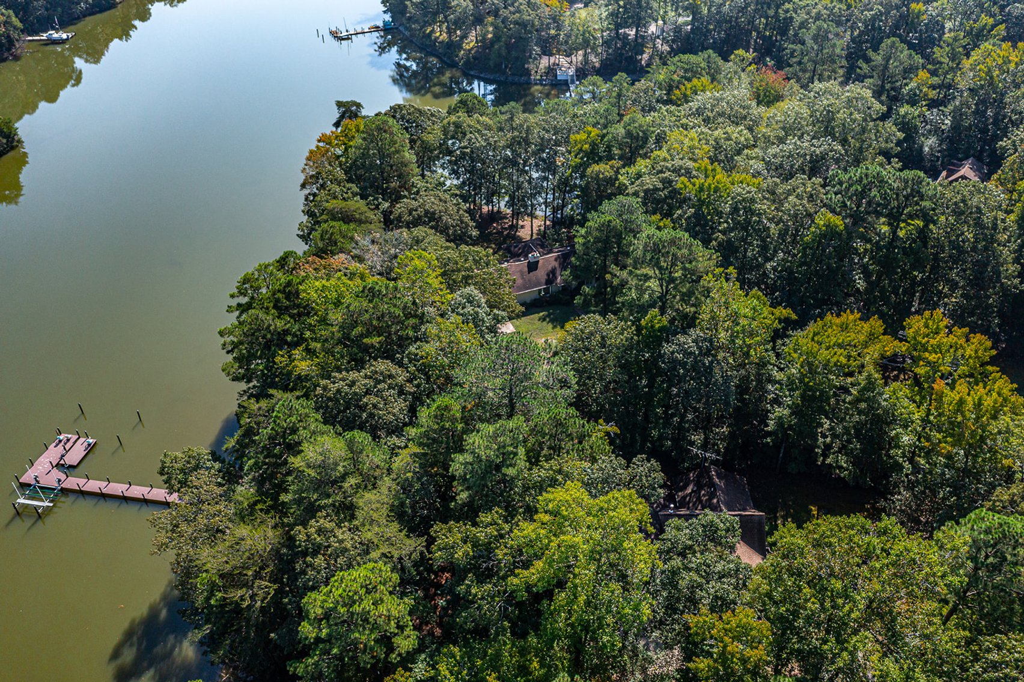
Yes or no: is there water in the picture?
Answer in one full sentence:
Yes, the picture does contain water.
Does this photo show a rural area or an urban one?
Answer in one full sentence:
The land in this view is best described as rural.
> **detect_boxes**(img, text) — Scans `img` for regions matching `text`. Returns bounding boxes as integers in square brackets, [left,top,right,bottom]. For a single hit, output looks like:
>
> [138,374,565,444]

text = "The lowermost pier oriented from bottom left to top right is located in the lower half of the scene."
[61,430,97,469]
